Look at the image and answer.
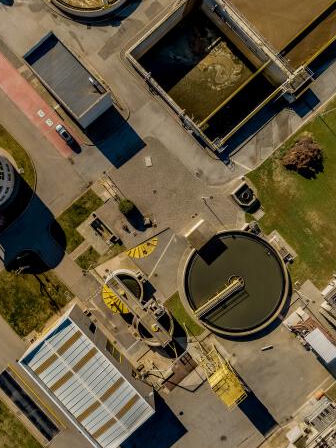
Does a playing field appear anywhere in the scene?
No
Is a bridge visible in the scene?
Yes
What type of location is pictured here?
industrial area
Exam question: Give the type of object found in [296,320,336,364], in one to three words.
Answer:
shed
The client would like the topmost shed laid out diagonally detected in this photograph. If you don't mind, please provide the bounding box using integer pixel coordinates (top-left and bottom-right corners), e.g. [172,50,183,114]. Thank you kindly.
[24,32,113,127]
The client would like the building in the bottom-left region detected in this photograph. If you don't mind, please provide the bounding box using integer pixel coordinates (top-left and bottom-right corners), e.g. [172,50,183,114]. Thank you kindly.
[19,304,156,448]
